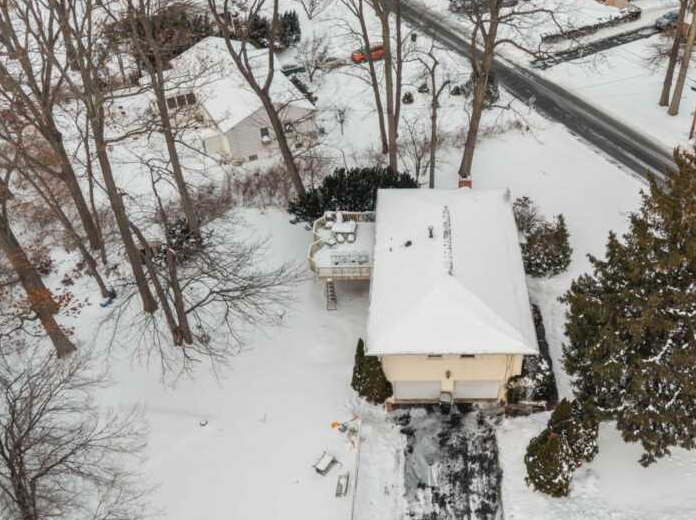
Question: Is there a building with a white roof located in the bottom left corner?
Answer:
No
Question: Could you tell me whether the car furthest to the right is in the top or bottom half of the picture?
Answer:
top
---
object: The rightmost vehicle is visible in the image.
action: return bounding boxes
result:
[649,11,677,33]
